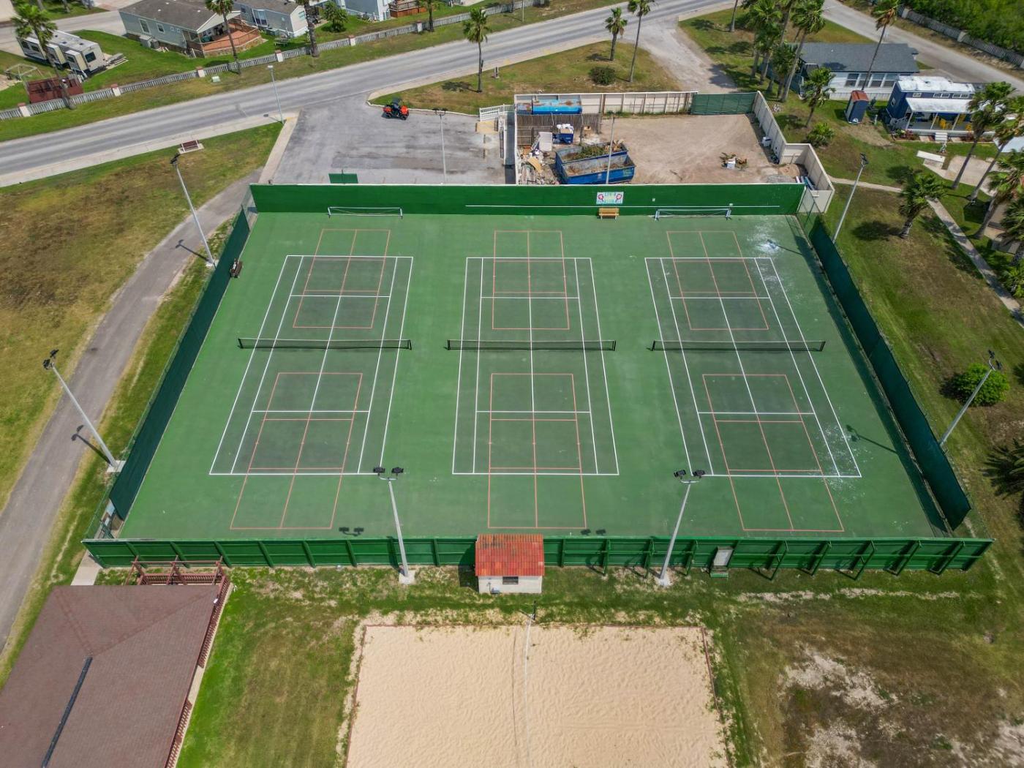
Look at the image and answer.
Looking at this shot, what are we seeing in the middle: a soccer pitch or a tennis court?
tennis court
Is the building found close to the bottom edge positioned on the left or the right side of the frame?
left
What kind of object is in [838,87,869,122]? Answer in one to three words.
shed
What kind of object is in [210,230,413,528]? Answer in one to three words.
tennis court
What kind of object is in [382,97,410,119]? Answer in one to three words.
vehicle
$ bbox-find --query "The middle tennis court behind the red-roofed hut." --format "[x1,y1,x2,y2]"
[451,230,620,529]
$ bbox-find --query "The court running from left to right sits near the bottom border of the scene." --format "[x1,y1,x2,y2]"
[341,623,732,768]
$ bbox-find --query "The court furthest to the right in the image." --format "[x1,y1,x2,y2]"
[646,231,860,530]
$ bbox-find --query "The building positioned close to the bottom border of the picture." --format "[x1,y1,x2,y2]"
[0,558,234,768]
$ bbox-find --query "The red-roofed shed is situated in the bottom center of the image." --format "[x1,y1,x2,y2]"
[474,529,546,593]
